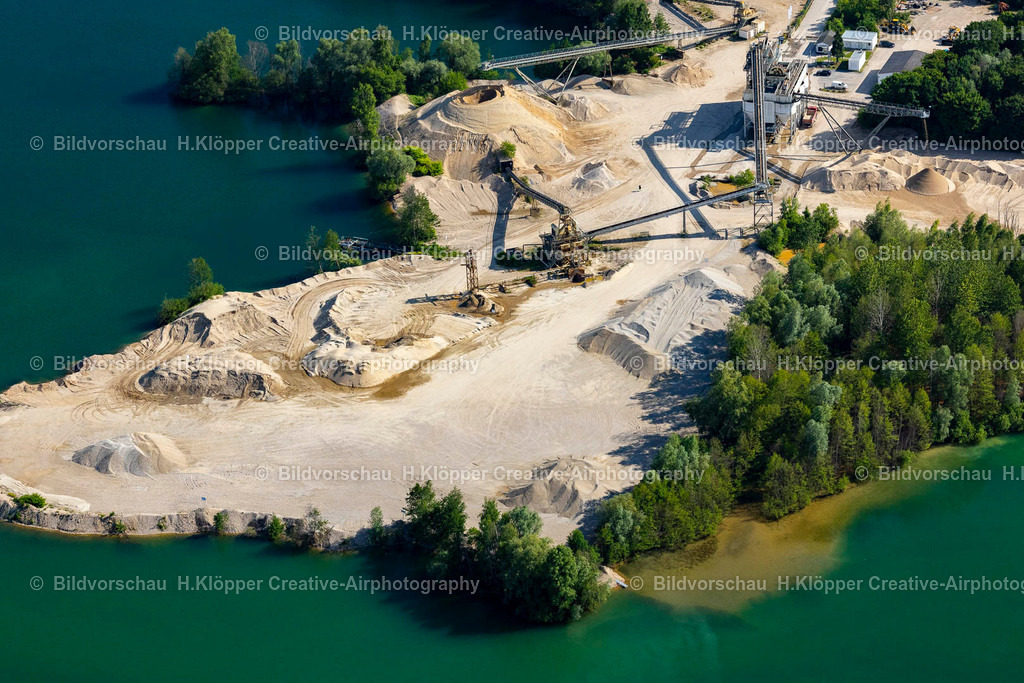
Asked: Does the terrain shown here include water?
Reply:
Yes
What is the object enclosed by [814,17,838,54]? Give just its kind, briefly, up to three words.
building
